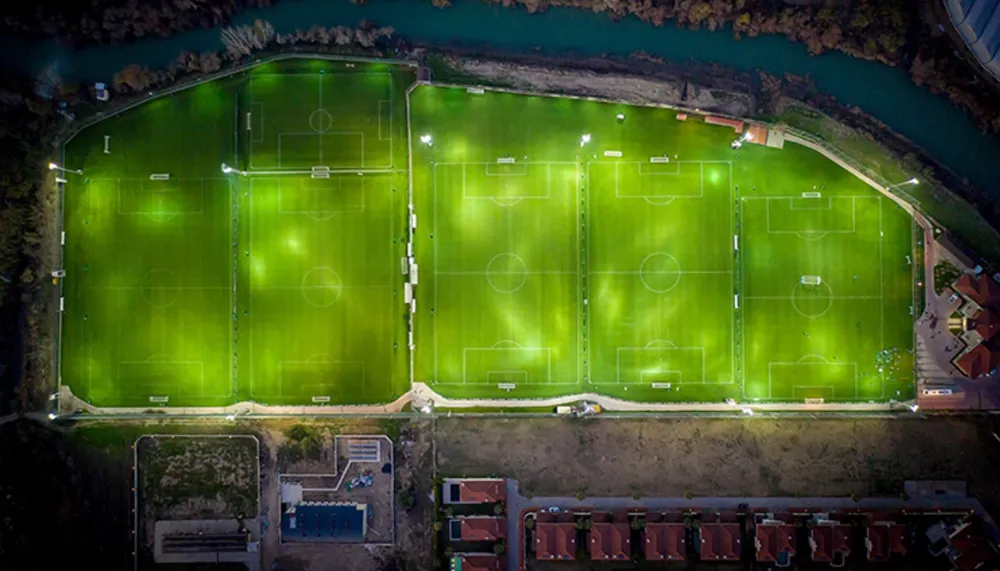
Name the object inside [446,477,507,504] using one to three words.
house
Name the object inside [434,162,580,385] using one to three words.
soccer field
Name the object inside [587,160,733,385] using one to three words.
soccer field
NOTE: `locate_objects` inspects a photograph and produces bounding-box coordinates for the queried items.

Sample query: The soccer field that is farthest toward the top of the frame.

[249,72,392,169]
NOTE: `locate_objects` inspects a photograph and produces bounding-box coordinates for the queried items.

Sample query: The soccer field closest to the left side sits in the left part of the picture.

[88,177,231,397]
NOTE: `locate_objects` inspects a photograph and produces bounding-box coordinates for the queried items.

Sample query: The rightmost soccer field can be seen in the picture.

[740,195,884,399]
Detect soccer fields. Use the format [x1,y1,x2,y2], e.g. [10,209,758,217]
[740,195,884,399]
[249,177,393,398]
[434,162,580,385]
[587,160,733,385]
[88,177,231,397]
[249,72,392,169]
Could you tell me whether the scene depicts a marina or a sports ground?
sports ground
